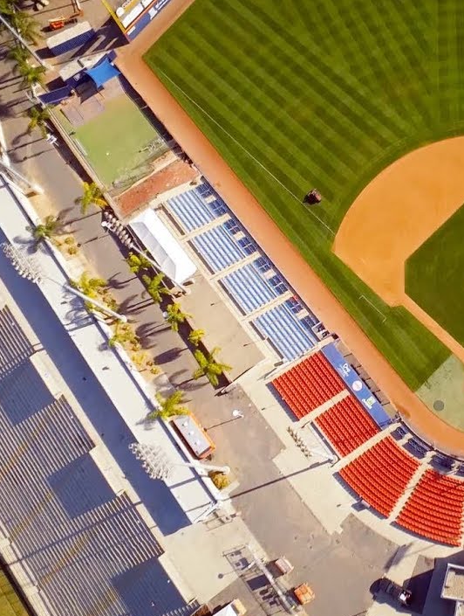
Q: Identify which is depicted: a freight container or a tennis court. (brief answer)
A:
freight container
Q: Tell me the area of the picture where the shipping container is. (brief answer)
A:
top left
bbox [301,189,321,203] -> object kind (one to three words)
work vehicle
